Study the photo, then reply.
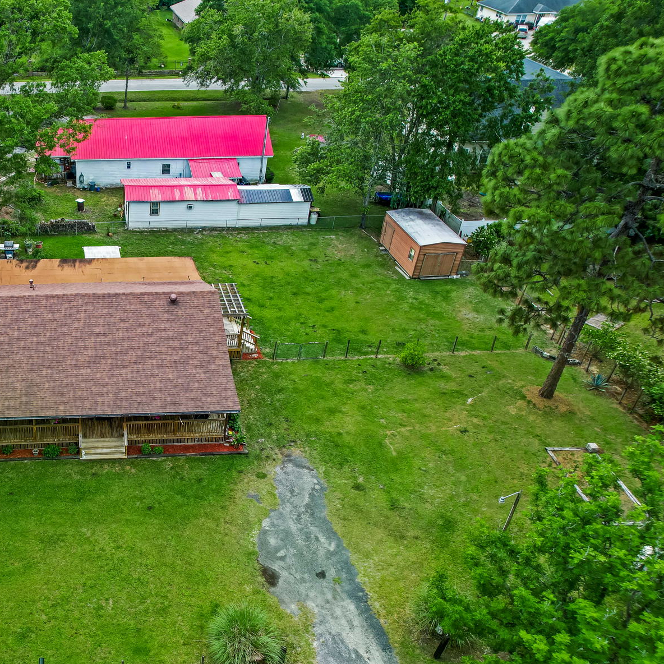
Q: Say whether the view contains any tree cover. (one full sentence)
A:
Yes, some tree cover is visible.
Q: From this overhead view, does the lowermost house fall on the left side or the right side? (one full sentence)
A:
You can find the lowermost house on the left side of the picture.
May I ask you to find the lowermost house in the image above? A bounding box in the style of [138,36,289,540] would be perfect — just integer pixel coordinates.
[0,256,239,460]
